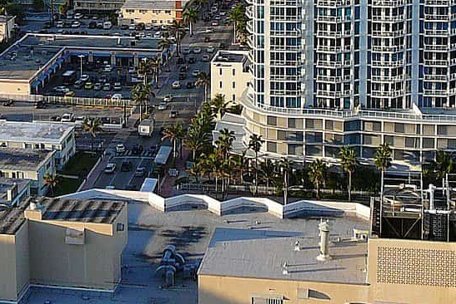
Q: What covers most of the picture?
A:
buildings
